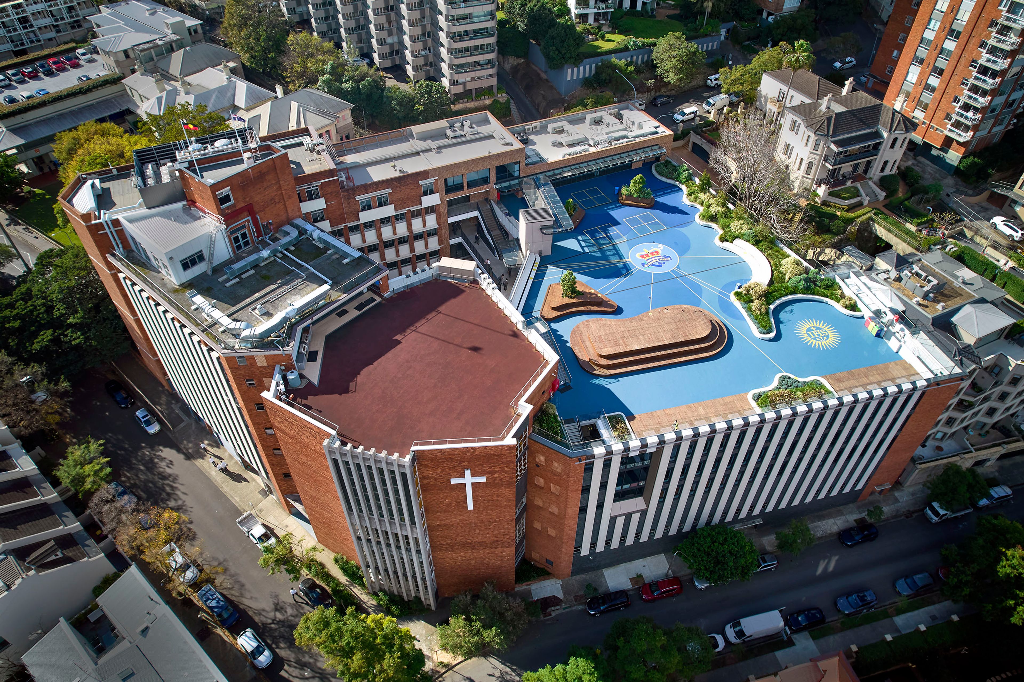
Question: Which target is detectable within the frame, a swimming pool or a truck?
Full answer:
Looking from above, you can make out a truck.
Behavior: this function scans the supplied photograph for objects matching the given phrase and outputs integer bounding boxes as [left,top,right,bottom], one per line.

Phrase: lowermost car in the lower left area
[233,624,275,669]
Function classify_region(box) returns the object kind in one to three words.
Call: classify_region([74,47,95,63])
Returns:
car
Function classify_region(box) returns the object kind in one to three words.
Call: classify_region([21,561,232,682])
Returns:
house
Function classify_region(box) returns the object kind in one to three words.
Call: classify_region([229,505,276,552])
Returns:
truck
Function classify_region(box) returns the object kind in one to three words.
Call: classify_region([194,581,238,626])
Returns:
car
